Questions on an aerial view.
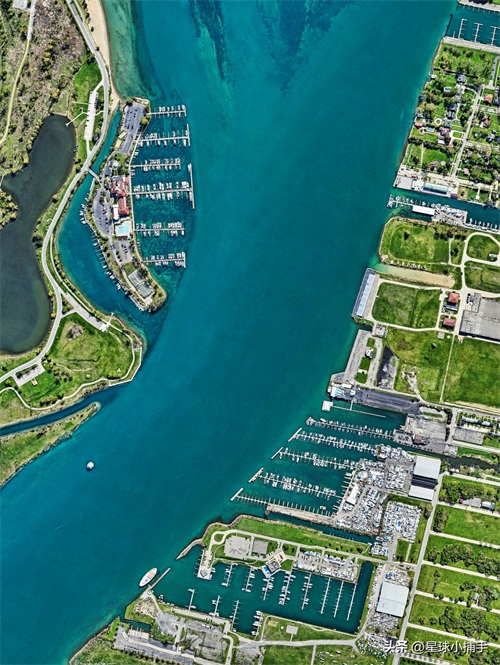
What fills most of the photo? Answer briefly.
water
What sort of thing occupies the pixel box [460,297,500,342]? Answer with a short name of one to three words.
building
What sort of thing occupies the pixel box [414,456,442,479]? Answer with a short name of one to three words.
shed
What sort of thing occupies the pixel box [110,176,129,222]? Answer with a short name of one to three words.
building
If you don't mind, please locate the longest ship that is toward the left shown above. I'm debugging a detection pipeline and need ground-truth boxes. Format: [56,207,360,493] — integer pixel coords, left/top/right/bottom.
[141,569,156,585]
